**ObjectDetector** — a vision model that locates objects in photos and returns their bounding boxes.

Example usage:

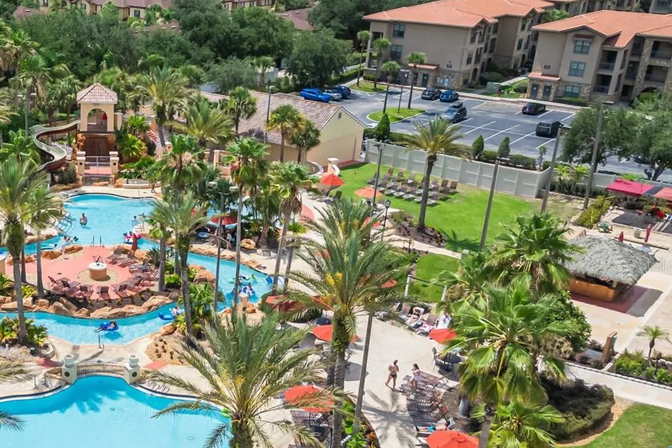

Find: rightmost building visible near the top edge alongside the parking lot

[528,2,672,113]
